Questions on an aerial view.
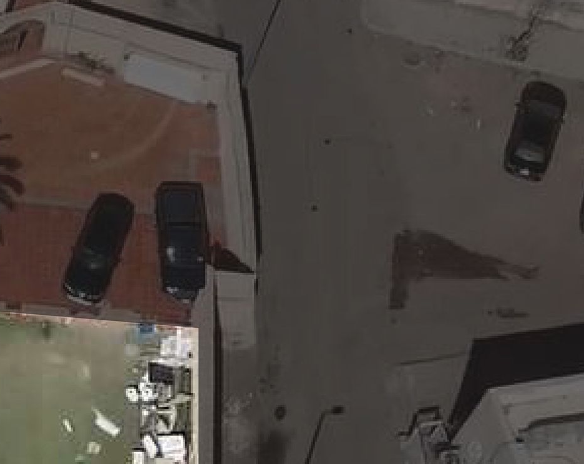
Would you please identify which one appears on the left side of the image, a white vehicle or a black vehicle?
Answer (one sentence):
Visible on the left side of the image is a black vehicle.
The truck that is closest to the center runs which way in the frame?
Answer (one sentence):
The truck that is closest to the center runs up and down in the image.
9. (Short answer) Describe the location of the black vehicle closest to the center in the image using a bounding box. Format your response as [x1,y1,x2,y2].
[156,183,211,303]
